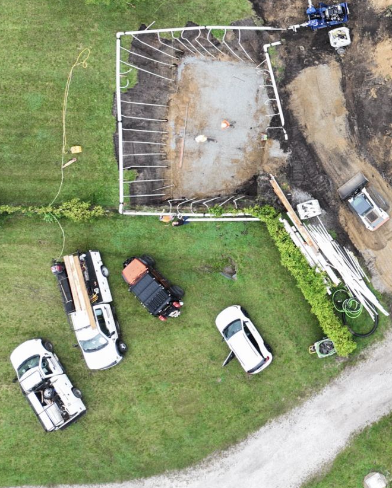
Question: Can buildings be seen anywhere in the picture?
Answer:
No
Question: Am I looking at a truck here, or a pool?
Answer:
truck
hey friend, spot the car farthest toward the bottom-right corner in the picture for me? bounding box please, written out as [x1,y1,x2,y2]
[216,303,276,375]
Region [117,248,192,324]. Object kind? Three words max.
car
